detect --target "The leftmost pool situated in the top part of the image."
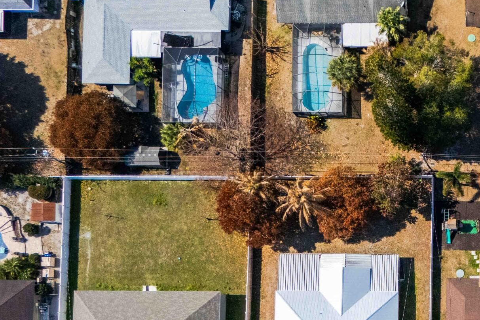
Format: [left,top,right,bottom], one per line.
[176,53,218,119]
